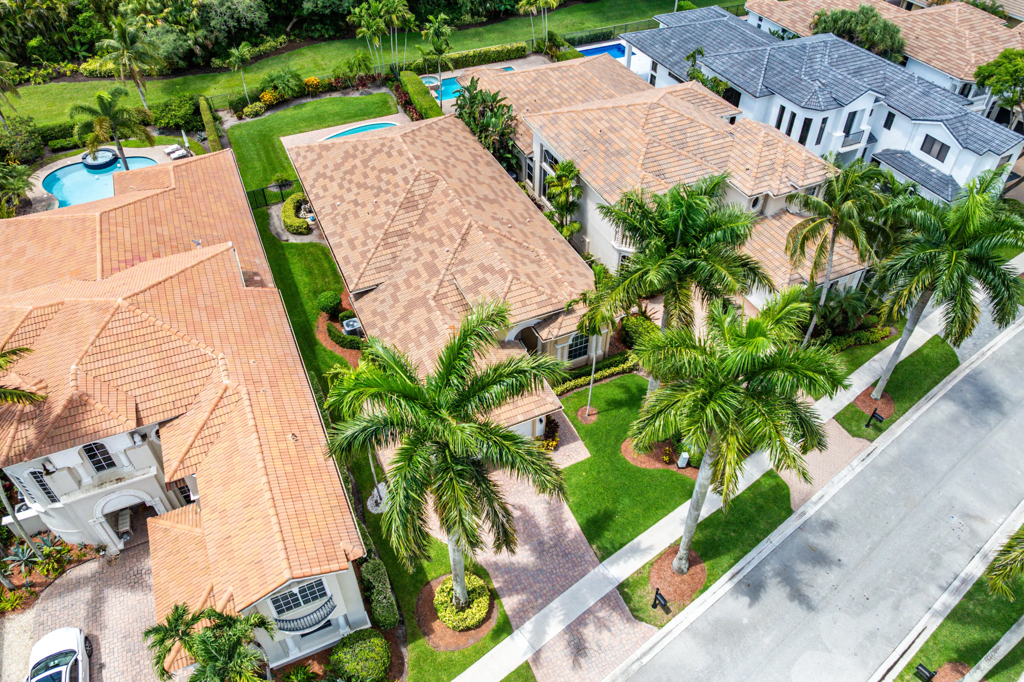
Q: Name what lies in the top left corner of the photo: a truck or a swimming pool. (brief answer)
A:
swimming pool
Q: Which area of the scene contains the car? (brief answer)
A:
bottom left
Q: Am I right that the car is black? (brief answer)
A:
No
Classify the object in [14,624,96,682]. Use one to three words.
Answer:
car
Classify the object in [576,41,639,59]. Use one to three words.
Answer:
swimming pool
